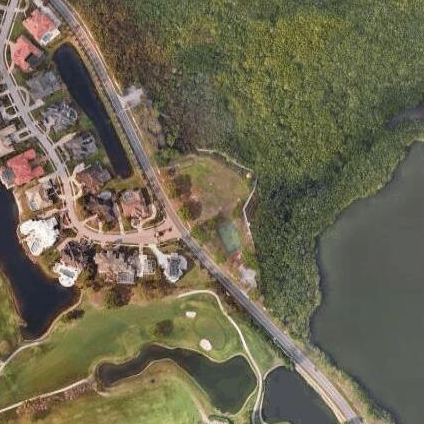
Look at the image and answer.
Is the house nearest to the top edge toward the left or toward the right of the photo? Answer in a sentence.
The house nearest to the top edge appears in the left half of the scene.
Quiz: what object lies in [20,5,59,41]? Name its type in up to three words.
house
